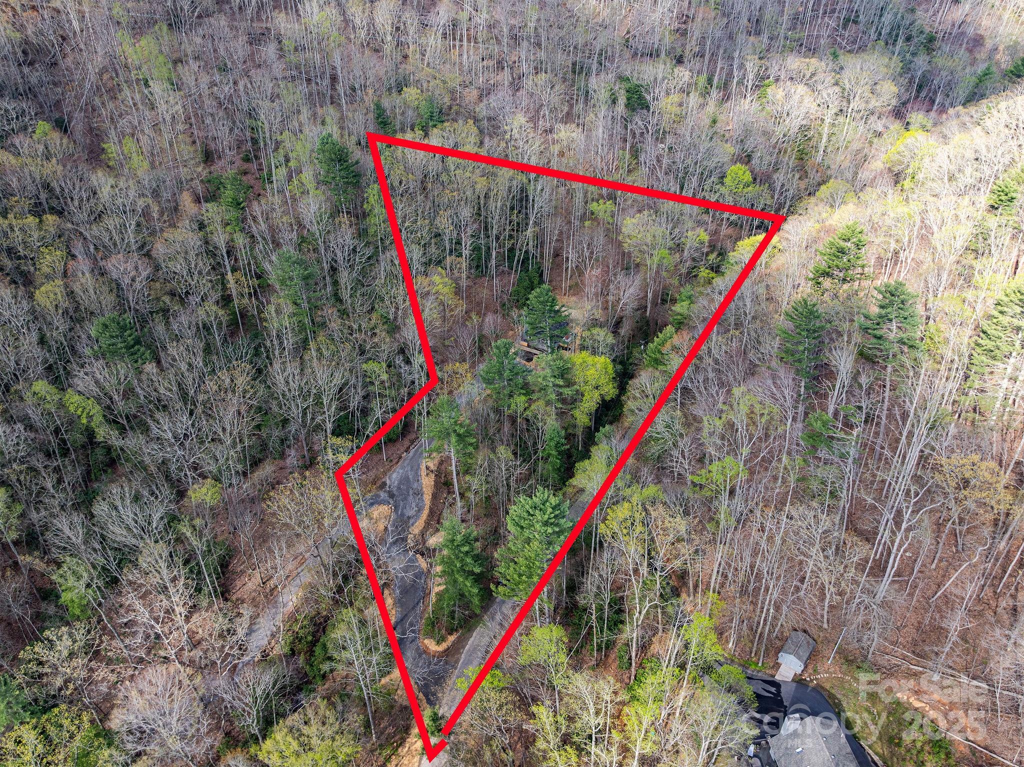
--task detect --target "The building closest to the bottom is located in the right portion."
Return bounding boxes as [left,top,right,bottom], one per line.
[768,711,869,767]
